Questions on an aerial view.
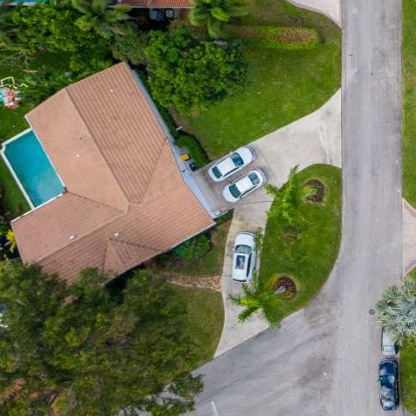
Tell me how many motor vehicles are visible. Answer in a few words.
5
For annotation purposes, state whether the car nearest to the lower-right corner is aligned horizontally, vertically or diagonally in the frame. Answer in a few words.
vertically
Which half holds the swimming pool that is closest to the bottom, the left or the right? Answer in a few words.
left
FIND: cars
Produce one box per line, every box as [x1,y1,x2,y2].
[375,305,400,355]
[230,231,257,281]
[220,169,270,203]
[206,145,257,183]
[376,358,400,411]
